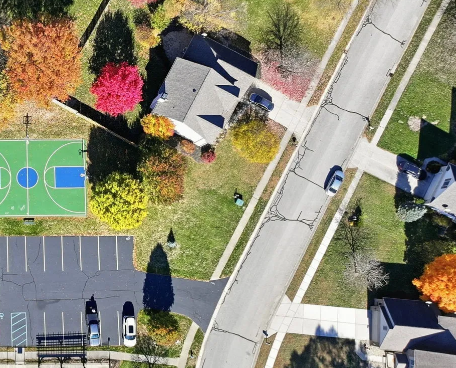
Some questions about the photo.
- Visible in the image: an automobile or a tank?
automobile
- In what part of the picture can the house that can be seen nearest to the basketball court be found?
top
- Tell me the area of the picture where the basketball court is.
left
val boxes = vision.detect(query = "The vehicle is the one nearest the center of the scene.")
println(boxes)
[247,92,276,113]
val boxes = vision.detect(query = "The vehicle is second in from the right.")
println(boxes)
[323,168,344,197]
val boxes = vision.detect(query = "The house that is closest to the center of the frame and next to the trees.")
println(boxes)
[150,39,260,146]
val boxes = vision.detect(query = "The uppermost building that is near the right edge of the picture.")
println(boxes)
[413,161,456,226]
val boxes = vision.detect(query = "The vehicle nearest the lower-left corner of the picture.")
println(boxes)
[86,311,101,346]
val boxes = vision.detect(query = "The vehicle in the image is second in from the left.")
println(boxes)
[122,317,137,346]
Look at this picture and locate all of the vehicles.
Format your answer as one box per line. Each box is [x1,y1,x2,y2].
[395,160,427,182]
[323,168,344,197]
[86,311,101,346]
[247,92,276,113]
[122,317,137,346]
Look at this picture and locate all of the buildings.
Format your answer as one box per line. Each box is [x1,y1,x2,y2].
[150,39,260,146]
[370,297,456,368]
[413,161,456,226]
